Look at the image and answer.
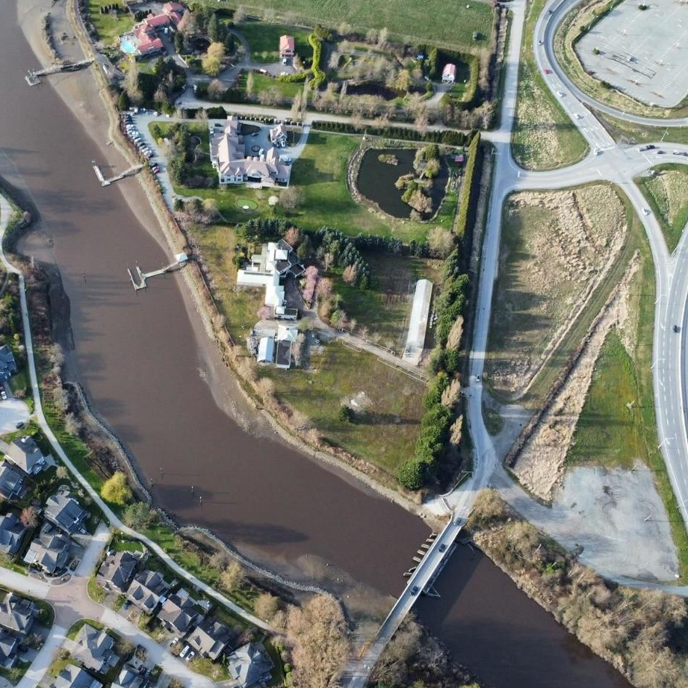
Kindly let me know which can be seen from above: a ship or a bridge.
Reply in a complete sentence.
It is a bridge that can be seen here.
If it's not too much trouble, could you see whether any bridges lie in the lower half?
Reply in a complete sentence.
Yes, a bridge is visible in the lower half.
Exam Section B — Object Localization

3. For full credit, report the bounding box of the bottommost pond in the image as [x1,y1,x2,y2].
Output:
[350,144,456,224]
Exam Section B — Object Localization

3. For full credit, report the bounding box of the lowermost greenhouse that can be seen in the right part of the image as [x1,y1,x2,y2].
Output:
[403,282,431,362]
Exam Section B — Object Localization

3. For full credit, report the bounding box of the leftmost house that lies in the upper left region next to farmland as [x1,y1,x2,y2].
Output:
[131,0,188,61]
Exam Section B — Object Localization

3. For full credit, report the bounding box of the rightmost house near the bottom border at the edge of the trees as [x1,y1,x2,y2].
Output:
[225,641,277,688]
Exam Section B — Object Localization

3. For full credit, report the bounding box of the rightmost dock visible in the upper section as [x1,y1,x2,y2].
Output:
[126,252,189,291]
